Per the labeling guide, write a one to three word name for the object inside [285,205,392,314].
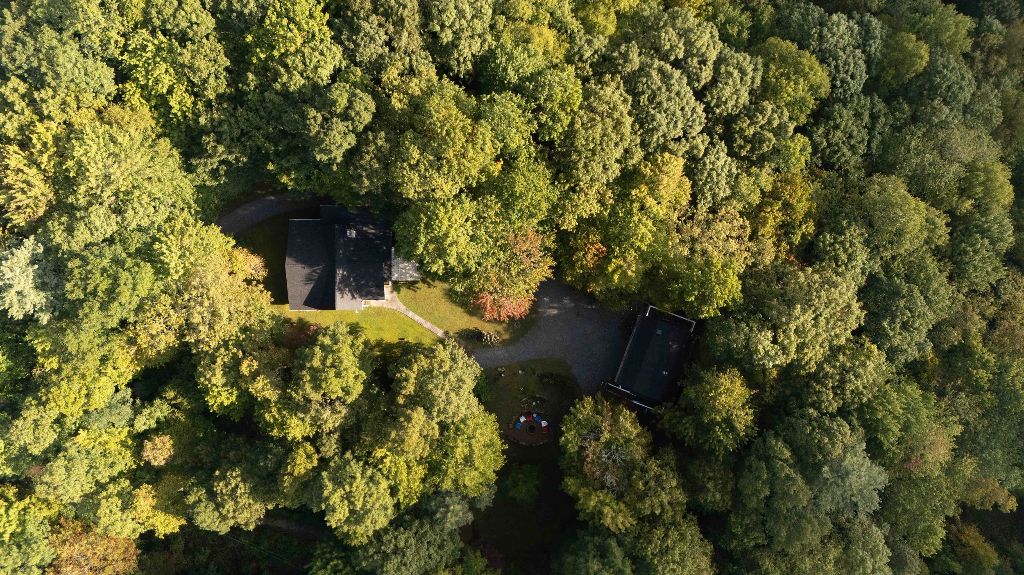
house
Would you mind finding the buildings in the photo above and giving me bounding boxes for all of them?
[285,205,392,314]
[615,314,699,402]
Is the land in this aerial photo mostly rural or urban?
rural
